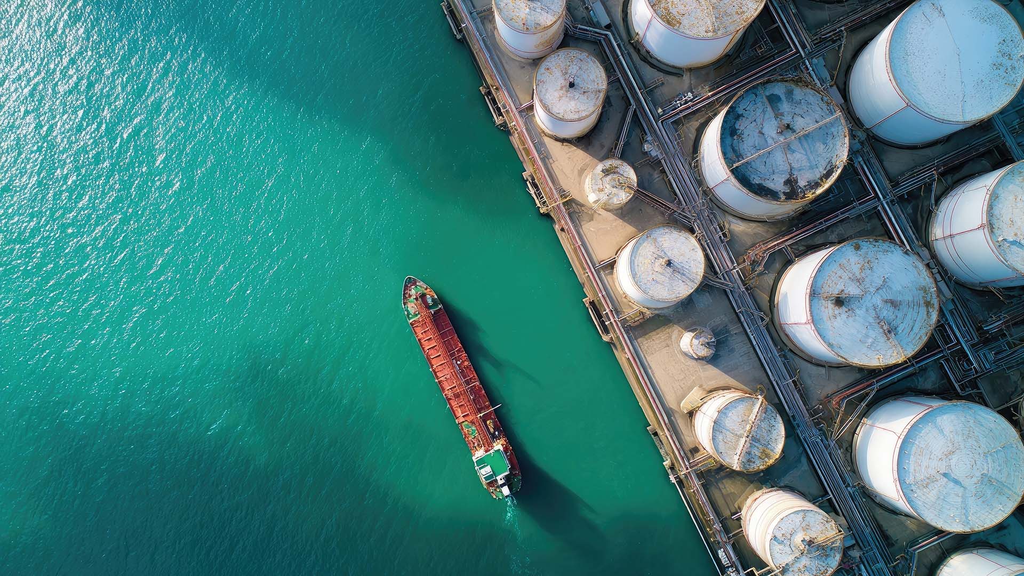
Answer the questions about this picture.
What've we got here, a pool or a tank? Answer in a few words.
tank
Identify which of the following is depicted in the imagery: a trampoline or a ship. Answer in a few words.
ship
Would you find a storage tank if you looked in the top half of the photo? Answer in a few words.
Yes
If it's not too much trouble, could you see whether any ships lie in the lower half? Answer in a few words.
Yes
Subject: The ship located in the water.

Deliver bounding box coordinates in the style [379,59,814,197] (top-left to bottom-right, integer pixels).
[401,276,524,501]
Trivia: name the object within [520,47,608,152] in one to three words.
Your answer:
storage tank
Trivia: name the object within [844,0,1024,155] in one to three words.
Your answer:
storage tank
